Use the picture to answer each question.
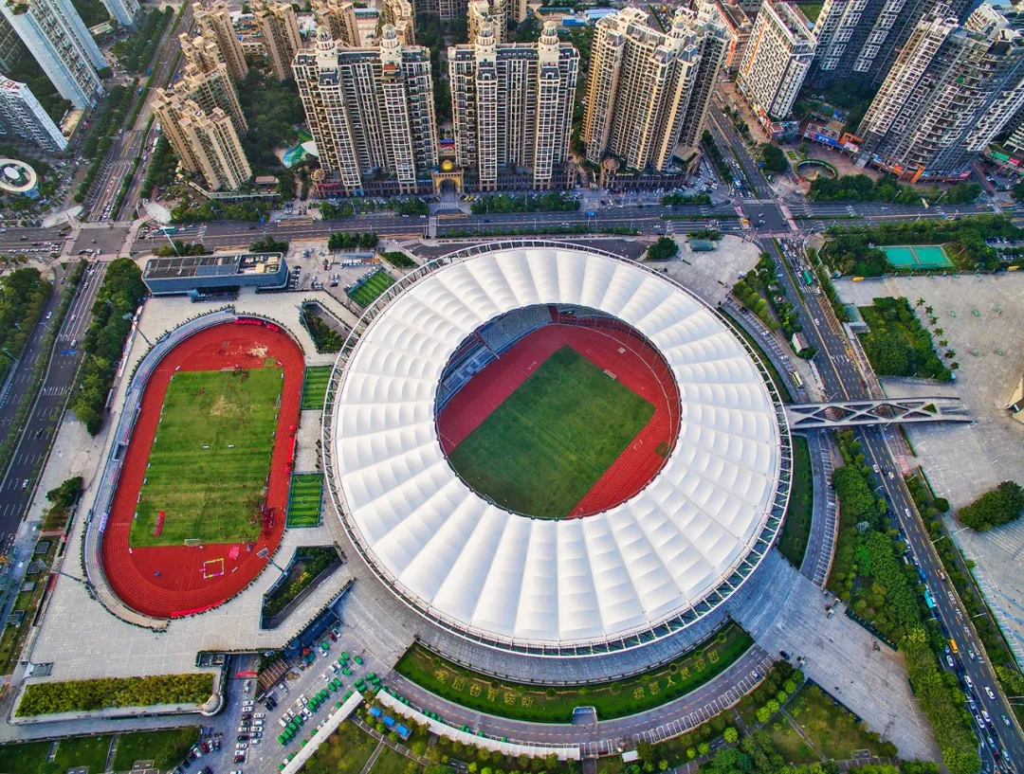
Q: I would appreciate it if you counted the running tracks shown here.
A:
two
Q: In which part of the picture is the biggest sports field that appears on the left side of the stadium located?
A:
left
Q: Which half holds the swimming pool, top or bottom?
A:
top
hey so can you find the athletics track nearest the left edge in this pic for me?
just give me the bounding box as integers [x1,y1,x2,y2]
[81,308,302,634]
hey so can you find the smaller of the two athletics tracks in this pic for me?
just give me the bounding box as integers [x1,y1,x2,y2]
[434,318,681,519]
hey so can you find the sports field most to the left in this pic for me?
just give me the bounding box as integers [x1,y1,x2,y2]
[127,357,283,548]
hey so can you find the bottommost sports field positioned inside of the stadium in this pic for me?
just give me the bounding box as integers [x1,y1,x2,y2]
[448,347,671,518]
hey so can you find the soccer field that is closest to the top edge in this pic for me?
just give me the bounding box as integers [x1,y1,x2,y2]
[344,265,398,308]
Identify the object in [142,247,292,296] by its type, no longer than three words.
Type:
building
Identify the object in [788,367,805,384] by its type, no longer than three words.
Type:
vehicle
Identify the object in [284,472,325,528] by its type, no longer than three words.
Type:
soccer field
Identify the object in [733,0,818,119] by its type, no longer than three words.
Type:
building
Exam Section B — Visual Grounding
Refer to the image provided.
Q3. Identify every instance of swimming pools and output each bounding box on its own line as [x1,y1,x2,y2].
[284,134,313,168]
